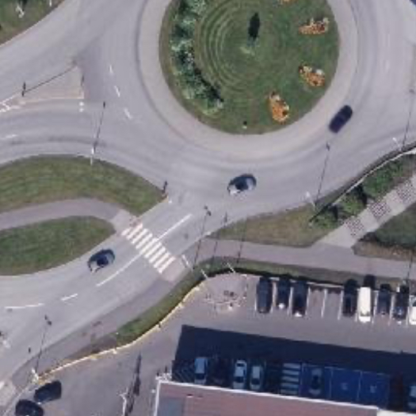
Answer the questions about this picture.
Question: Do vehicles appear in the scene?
Yes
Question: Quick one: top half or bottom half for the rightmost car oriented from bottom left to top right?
top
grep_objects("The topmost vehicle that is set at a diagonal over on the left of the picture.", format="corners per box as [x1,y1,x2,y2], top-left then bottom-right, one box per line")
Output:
[86,249,117,274]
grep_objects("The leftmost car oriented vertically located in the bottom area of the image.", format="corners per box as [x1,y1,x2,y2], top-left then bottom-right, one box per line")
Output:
[194,357,209,386]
